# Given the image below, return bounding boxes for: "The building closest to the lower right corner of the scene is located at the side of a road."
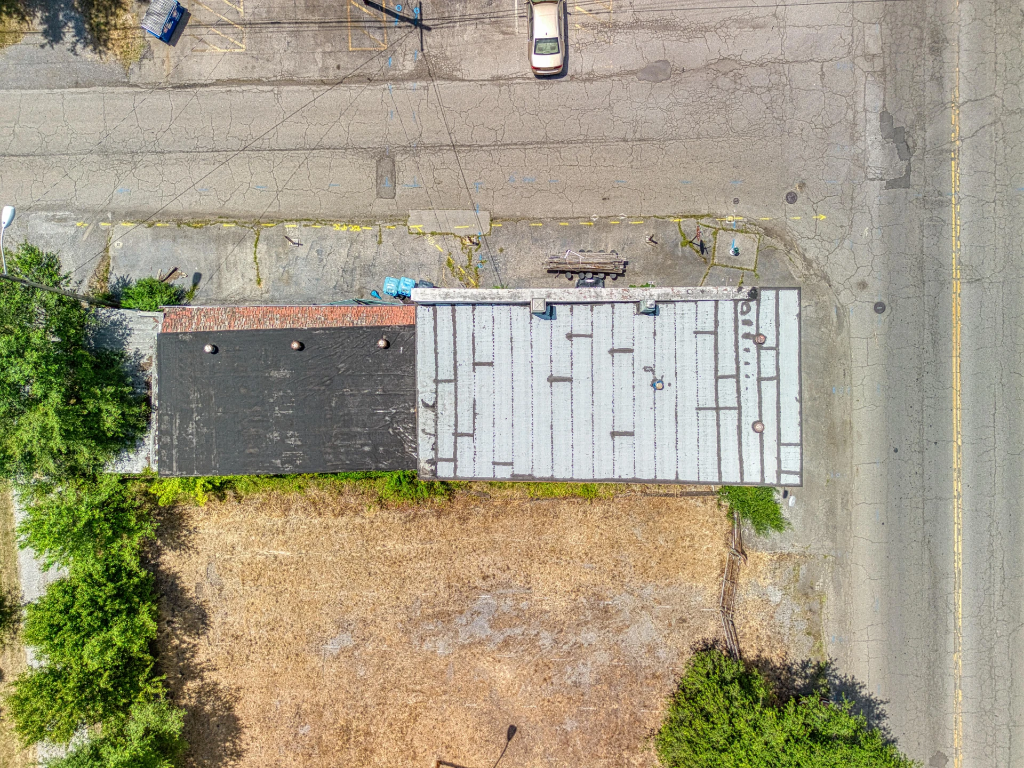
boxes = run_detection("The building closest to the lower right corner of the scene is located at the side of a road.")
[412,278,803,506]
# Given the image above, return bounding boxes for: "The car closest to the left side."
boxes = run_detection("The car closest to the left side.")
[526,0,569,71]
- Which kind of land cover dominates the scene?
paved ground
